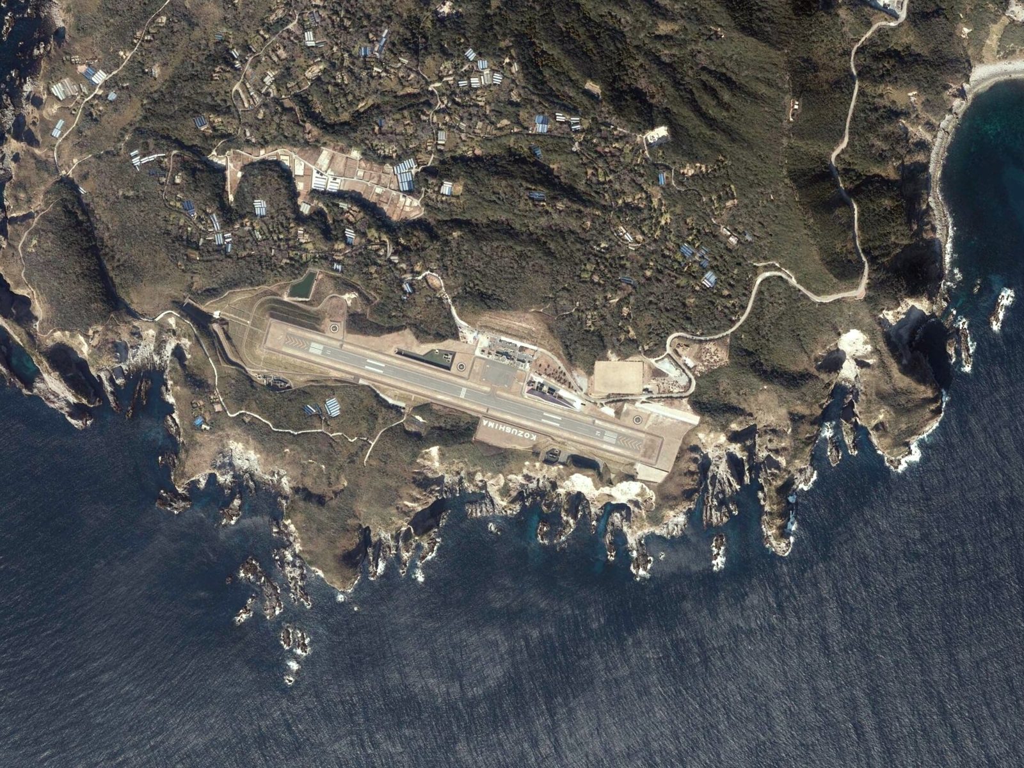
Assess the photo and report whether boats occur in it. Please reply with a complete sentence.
No, there is no boat in the image.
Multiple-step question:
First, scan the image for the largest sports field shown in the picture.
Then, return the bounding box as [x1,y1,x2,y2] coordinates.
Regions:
[595,361,643,394]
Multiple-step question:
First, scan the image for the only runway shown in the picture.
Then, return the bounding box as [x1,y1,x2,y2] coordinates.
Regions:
[284,332,642,453]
